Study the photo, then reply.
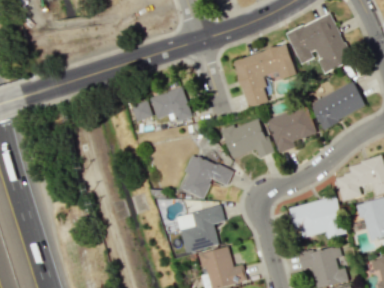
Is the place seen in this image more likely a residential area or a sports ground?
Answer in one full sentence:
What you see here is a residential area.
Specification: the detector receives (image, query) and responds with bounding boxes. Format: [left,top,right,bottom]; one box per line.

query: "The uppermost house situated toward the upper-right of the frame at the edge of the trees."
[286,14,348,64]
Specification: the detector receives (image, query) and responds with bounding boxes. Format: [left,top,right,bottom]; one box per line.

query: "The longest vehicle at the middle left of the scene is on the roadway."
[2,144,18,182]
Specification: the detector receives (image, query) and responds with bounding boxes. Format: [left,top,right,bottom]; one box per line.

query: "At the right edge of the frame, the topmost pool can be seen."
[358,233,376,252]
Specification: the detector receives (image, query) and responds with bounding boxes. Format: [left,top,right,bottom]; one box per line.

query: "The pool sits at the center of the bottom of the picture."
[167,202,184,220]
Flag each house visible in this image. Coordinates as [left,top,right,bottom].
[234,44,295,108]
[131,101,154,122]
[200,246,248,288]
[223,119,274,158]
[286,14,348,64]
[150,86,194,122]
[300,246,350,288]
[315,82,366,128]
[358,198,384,243]
[268,108,316,153]
[373,256,384,288]
[336,150,384,202]
[181,154,235,198]
[290,198,346,238]
[177,204,226,253]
